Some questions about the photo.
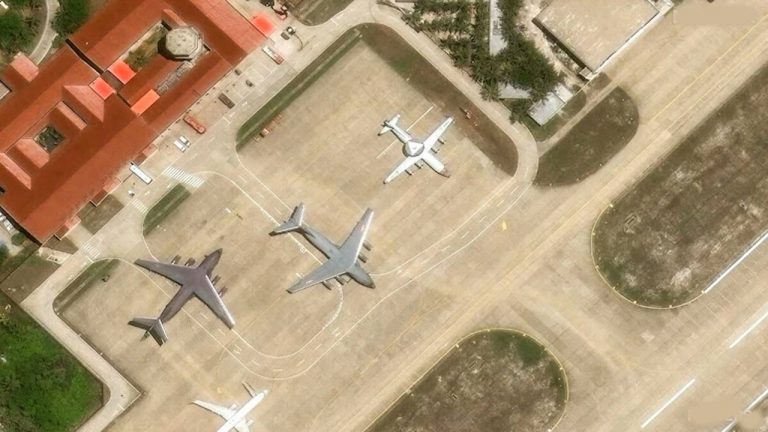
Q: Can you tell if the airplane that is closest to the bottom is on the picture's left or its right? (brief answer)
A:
left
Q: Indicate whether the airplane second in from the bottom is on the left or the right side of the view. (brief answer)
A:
left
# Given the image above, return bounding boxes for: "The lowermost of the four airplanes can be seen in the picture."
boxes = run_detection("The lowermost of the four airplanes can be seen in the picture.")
[191,391,268,432]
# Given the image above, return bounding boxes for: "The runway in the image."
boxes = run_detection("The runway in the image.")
[552,230,768,432]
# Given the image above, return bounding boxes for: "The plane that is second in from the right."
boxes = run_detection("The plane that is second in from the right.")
[271,202,375,296]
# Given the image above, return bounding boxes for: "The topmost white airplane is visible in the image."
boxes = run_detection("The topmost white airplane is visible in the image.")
[374,116,454,184]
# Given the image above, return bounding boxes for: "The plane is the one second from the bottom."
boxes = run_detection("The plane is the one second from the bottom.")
[124,250,232,347]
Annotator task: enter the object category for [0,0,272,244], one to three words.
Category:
building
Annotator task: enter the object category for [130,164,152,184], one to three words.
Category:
bus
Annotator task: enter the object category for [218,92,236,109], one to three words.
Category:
vehicle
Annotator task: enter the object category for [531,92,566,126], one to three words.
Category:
shed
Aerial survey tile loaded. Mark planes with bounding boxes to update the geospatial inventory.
[271,202,375,296]
[191,391,268,432]
[124,250,232,347]
[374,116,454,184]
